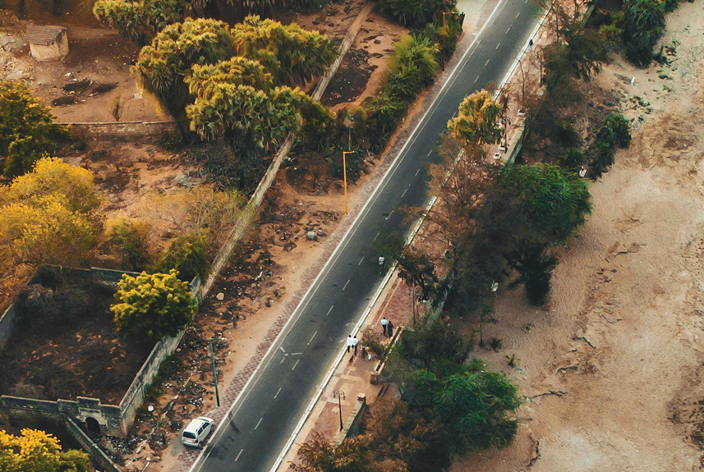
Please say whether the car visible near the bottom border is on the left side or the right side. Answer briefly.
left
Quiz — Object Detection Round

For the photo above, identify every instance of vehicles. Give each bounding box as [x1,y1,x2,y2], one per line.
[375,257,385,275]
[179,417,214,452]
